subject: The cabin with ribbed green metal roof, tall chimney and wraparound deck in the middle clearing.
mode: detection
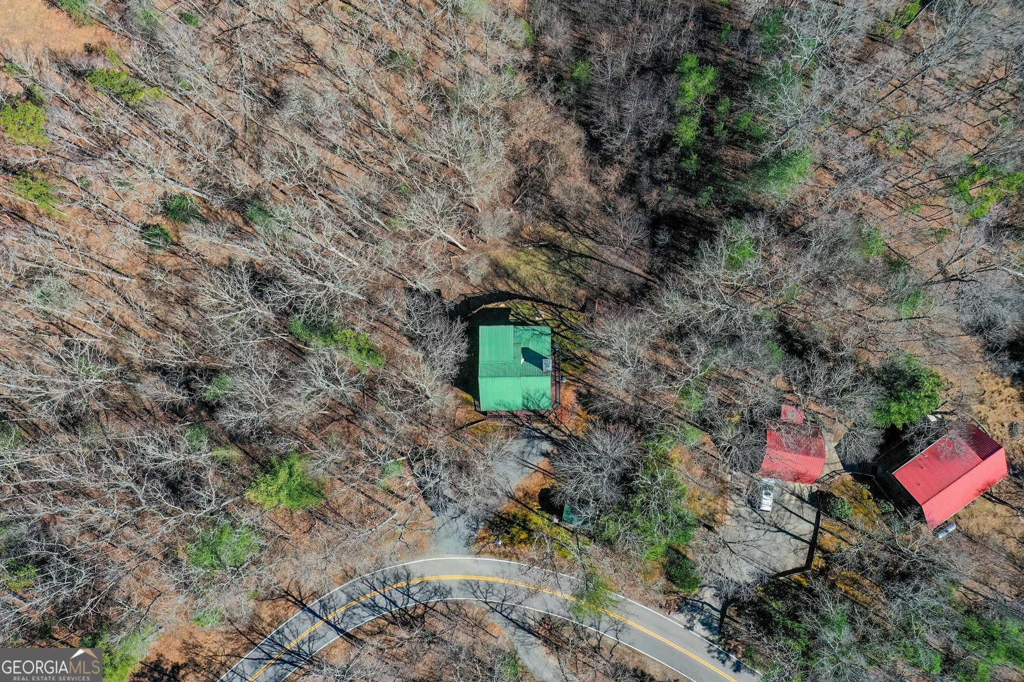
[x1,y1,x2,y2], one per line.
[473,325,562,427]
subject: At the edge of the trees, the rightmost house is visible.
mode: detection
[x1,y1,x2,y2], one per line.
[871,417,1008,533]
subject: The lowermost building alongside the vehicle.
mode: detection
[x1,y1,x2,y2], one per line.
[755,420,826,485]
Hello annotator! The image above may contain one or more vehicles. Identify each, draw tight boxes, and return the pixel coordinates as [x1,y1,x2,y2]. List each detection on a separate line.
[759,478,775,513]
